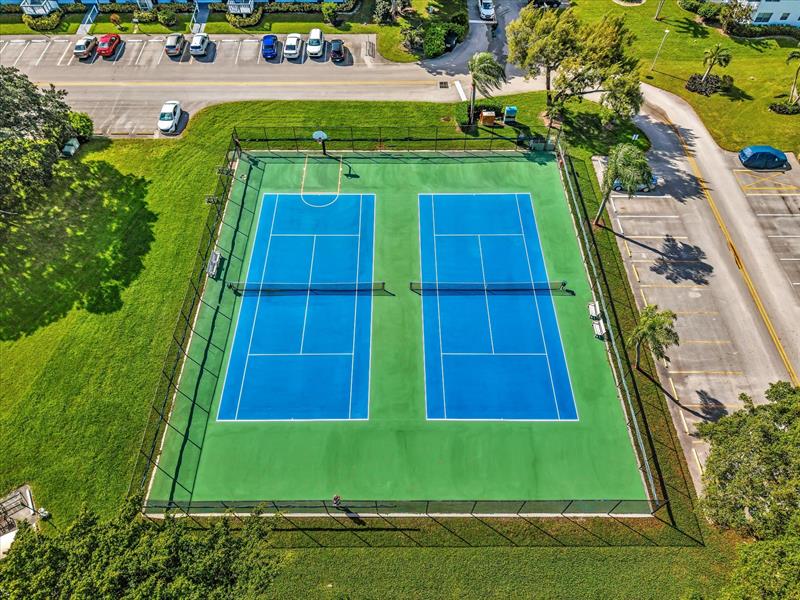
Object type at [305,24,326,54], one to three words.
car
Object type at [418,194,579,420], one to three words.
tennis court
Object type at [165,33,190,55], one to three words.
car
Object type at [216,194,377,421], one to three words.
tennis court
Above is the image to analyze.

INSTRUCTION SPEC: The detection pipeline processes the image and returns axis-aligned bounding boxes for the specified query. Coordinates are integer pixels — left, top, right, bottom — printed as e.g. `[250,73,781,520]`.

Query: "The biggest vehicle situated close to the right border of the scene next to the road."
[738,144,791,166]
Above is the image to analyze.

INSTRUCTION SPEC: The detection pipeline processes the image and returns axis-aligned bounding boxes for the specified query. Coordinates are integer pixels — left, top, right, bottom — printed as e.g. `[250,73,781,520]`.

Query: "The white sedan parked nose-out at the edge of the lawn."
[155,102,184,133]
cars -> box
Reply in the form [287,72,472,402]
[329,37,346,58]
[283,34,302,56]
[259,34,280,57]
[479,0,497,20]
[642,170,663,191]
[165,33,190,55]
[738,144,791,166]
[190,32,212,55]
[98,35,124,56]
[305,24,326,54]
[155,102,184,133]
[73,34,101,57]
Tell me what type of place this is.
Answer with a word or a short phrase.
sports ground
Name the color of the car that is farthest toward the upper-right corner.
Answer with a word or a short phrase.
blue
